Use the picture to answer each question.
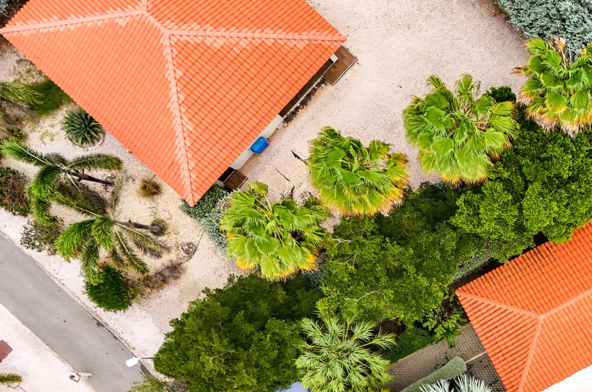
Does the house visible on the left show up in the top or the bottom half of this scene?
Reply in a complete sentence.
The house visible on the left sits in the top half of the picture.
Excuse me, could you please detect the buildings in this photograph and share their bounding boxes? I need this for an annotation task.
[0,0,360,207]
[454,216,592,392]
